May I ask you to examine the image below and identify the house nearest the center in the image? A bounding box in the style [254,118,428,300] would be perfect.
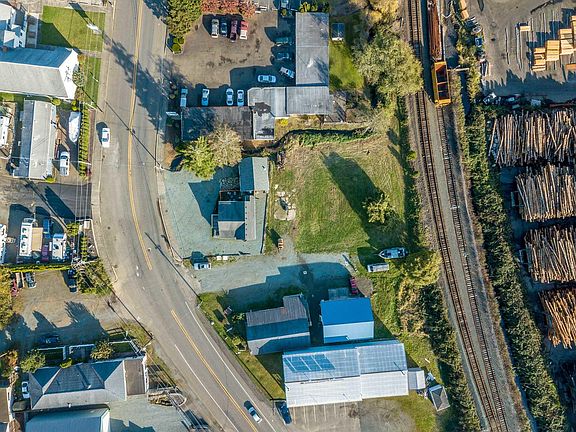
[217,155,268,240]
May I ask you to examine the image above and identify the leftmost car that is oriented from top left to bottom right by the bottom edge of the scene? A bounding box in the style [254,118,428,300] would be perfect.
[247,404,264,426]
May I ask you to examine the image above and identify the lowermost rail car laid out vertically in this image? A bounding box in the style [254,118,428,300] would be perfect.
[430,62,452,109]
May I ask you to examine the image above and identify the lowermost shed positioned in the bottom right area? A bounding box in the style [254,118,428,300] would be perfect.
[427,382,451,412]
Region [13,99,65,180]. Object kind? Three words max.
house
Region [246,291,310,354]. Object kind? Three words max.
building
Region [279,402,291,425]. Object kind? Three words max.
vehicle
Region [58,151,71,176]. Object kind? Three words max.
vehicle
